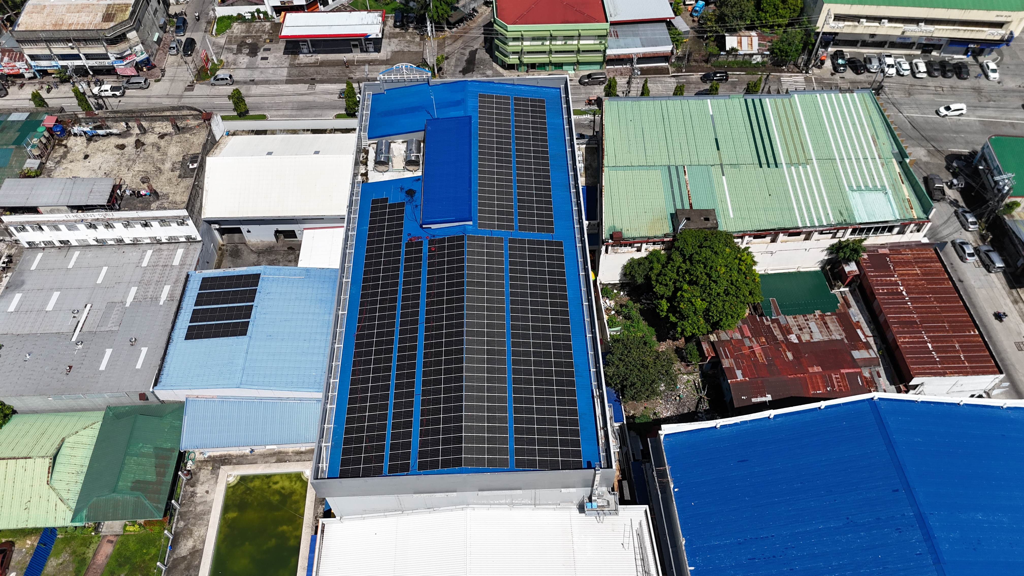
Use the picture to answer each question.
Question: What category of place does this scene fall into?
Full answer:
The area seen from above is an industrial area.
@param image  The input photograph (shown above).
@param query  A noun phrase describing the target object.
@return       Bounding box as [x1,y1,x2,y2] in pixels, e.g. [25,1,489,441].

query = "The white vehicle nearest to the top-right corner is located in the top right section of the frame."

[981,62,999,80]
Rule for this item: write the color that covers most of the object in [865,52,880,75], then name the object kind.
gray car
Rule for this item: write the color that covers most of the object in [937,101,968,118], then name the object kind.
white car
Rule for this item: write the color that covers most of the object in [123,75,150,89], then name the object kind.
gray car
